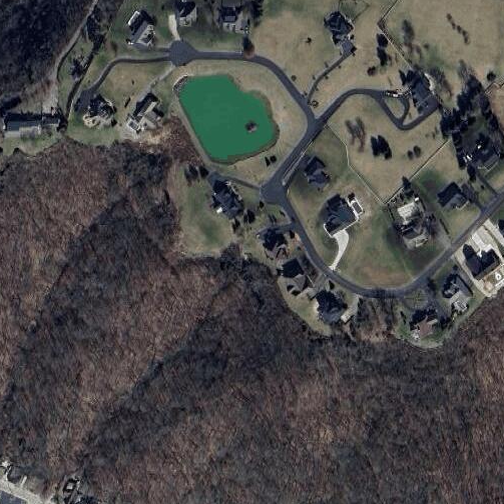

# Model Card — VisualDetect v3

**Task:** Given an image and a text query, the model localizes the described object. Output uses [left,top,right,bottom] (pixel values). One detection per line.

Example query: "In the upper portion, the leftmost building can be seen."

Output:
[5,111,62,132]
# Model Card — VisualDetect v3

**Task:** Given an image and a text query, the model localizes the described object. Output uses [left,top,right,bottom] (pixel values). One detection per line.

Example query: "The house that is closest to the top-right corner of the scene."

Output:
[403,68,441,113]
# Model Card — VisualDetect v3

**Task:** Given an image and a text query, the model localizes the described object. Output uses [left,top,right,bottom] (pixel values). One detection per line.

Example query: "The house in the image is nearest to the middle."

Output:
[261,233,288,259]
